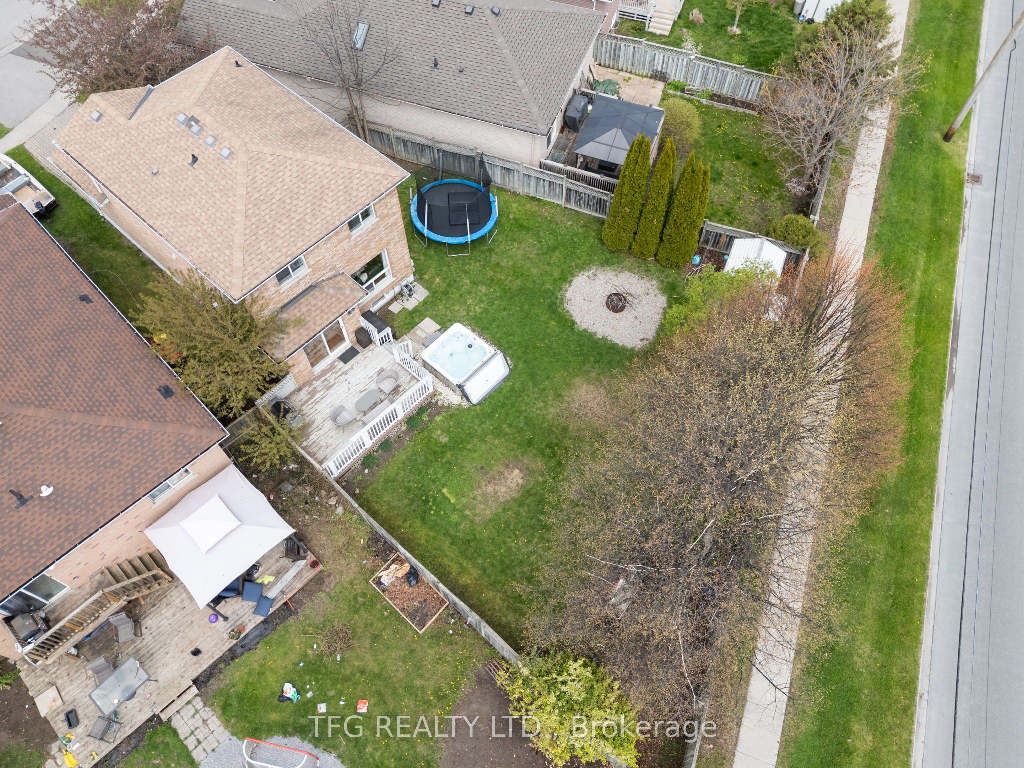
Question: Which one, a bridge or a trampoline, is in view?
trampoline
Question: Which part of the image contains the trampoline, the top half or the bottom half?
top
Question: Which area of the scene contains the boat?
top left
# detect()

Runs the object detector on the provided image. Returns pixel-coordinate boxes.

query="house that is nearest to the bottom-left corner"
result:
[0,205,246,660]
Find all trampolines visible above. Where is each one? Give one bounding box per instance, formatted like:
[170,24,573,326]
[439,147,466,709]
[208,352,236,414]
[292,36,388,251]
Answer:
[407,155,497,257]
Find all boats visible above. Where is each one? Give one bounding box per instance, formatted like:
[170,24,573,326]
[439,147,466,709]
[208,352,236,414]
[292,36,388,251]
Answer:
[0,164,61,222]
